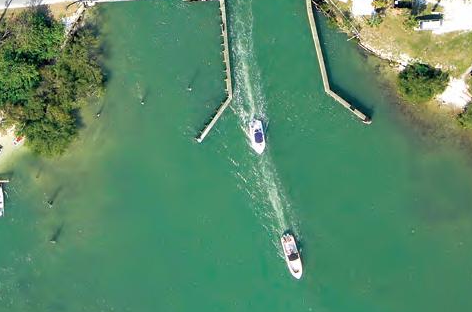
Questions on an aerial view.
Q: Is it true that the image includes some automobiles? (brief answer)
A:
No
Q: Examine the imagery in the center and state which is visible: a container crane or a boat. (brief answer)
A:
boat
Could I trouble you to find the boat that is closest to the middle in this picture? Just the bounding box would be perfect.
[248,119,265,154]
